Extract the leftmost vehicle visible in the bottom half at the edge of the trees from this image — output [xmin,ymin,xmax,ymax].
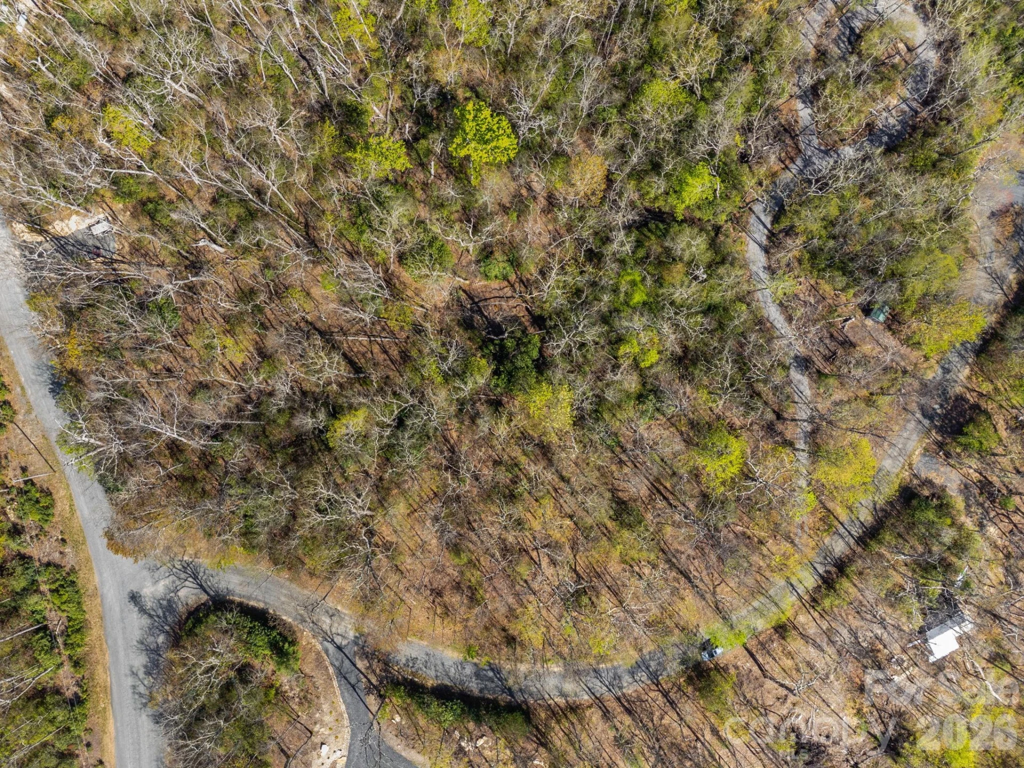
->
[702,643,727,658]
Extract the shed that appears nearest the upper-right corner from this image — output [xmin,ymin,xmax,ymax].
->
[863,305,886,325]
